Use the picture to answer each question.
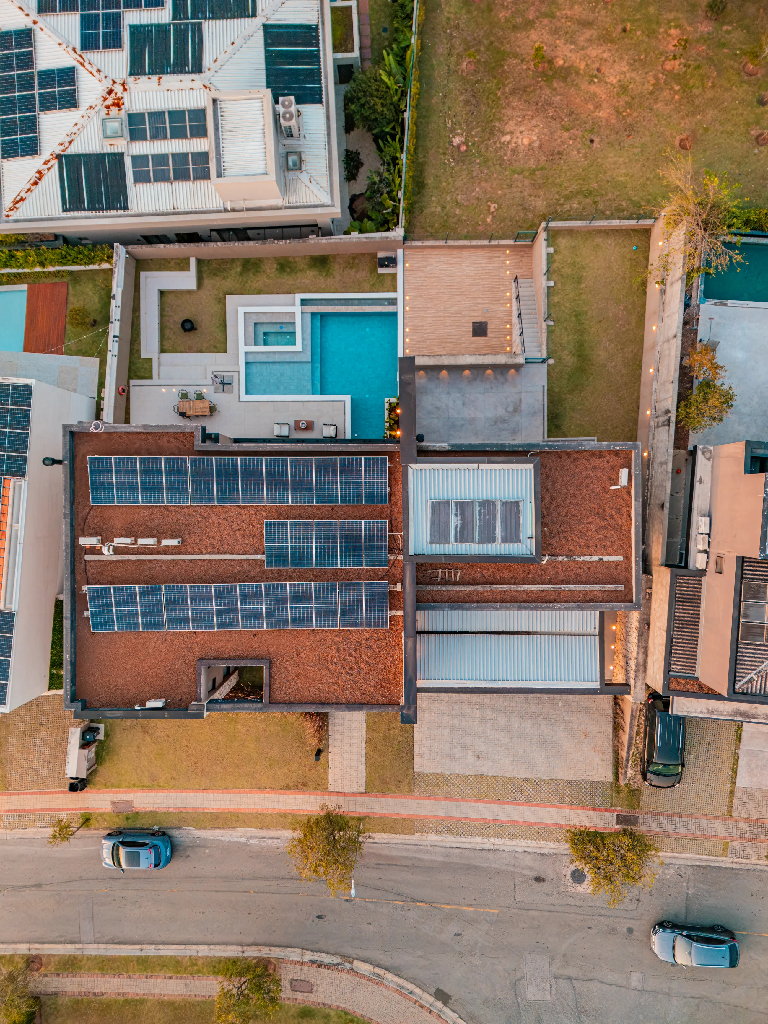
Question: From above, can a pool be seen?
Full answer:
Yes, the photo shows a pool.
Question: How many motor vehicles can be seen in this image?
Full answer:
The photo contains 3 motor vehicles.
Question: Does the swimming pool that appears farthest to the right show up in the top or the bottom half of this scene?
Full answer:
The top half of the photo is where the swimming pool that appears farthest to the right is.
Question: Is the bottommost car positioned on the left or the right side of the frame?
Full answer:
It is on the right.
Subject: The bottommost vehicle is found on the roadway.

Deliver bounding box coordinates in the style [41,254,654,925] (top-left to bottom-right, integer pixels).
[650,920,744,974]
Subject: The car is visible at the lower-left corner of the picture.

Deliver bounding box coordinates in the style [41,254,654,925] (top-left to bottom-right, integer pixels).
[100,830,171,872]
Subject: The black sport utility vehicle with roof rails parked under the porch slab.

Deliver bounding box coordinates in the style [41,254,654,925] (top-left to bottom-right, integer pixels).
[640,694,687,787]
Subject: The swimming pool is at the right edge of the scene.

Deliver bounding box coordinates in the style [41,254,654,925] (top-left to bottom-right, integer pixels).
[698,237,768,306]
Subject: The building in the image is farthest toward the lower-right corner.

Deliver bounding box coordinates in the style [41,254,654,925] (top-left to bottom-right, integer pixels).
[644,440,768,724]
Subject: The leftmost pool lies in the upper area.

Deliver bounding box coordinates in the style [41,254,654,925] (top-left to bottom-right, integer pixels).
[0,284,27,352]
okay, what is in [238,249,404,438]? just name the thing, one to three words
swimming pool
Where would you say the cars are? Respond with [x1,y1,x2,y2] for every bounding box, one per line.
[650,920,744,974]
[100,830,171,872]
[640,694,687,787]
